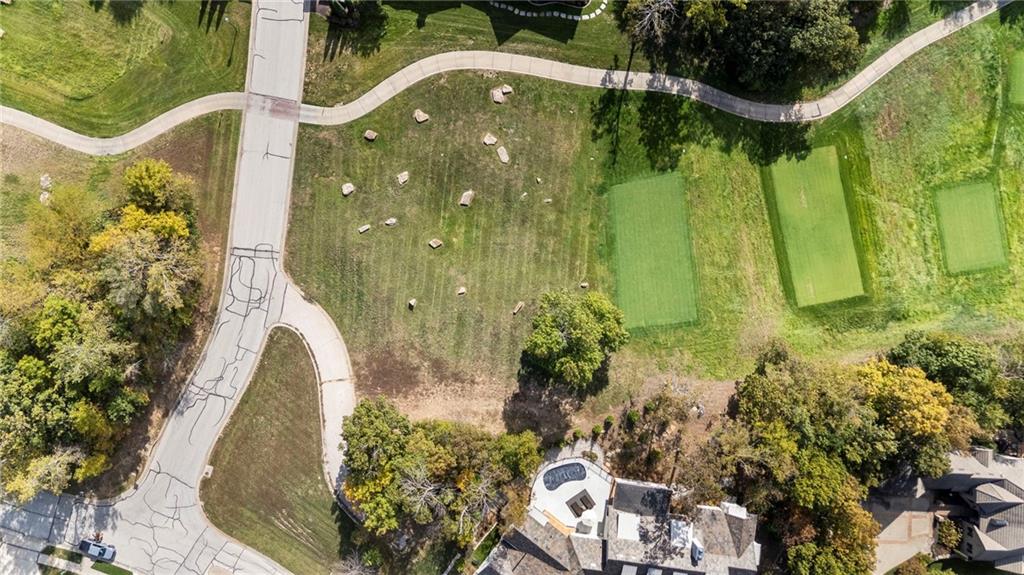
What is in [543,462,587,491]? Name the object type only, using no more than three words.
swimming pool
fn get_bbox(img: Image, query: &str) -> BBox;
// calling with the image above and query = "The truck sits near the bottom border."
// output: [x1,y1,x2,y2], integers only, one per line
[78,537,118,560]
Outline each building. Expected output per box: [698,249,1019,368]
[473,475,761,575]
[915,449,1024,575]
